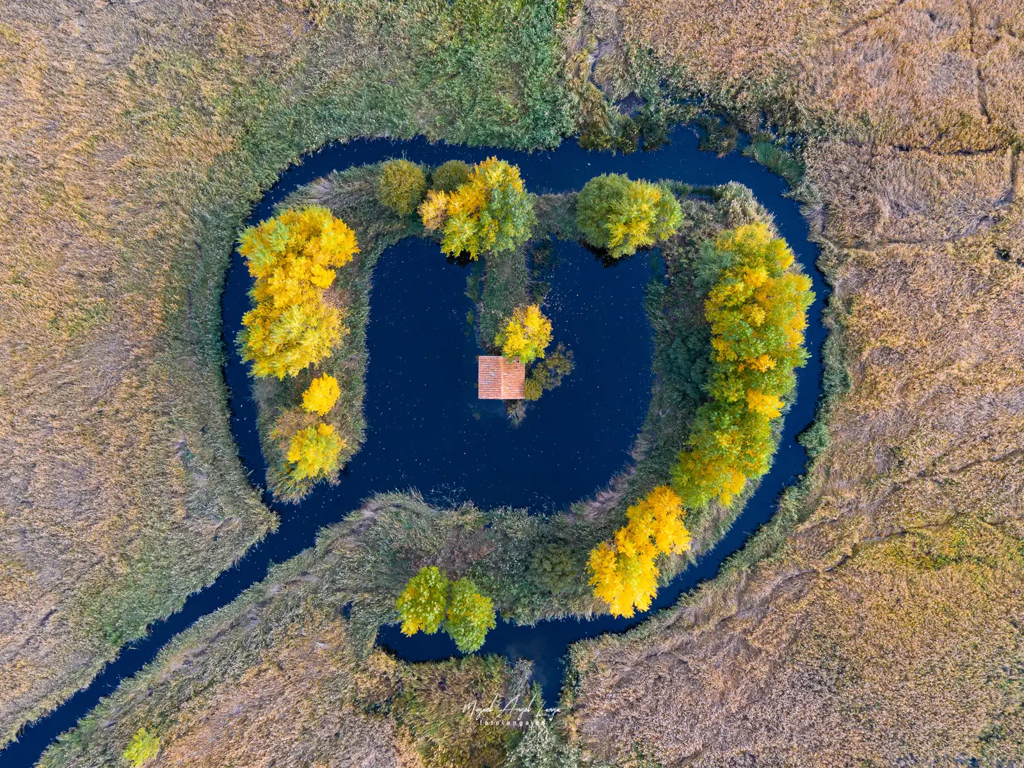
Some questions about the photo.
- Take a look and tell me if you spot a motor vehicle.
No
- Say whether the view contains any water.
Yes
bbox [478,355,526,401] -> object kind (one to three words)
shed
